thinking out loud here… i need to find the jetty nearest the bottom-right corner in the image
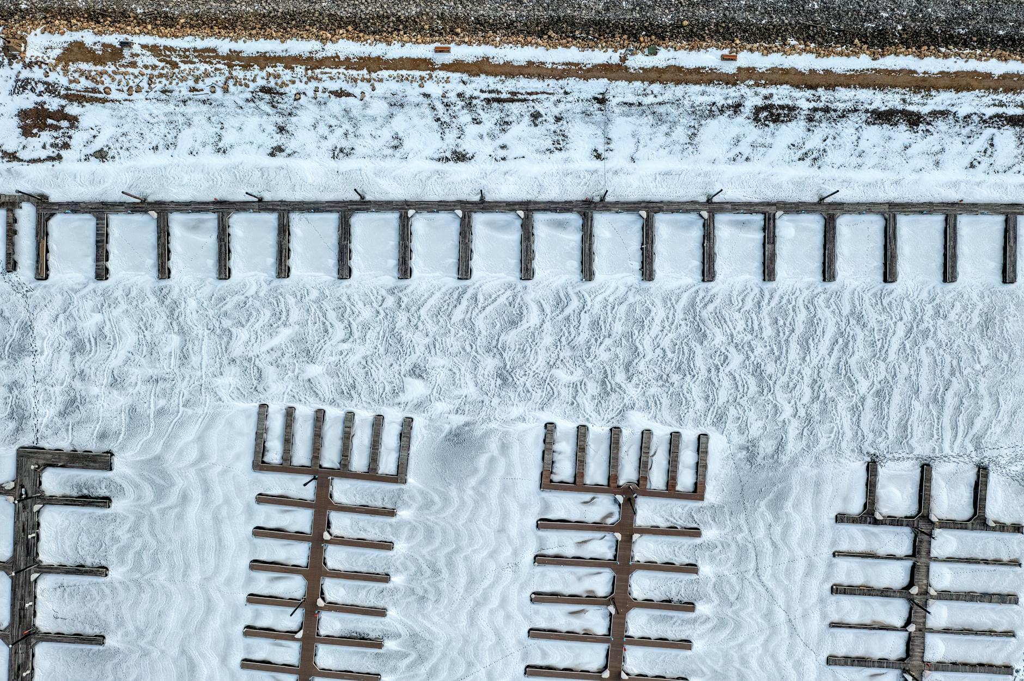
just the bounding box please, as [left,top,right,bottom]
[826,463,1023,681]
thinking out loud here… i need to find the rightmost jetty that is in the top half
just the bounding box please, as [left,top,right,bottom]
[35,196,1024,283]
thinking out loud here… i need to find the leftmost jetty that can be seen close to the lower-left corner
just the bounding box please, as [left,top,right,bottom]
[0,449,113,681]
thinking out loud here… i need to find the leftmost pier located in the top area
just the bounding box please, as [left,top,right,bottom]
[0,194,52,271]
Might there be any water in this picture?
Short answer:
Yes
